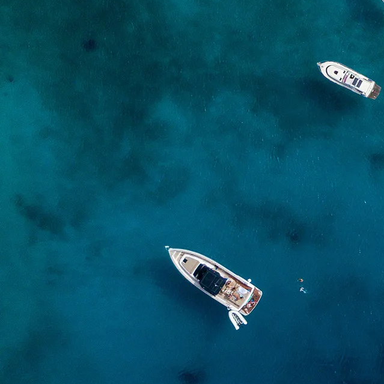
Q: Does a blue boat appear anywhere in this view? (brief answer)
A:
No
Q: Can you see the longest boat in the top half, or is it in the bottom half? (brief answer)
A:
bottom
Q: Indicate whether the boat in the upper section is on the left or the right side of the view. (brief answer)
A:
right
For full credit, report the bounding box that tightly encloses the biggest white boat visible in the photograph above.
[166,247,262,315]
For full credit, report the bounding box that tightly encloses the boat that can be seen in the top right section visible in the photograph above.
[316,61,381,99]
